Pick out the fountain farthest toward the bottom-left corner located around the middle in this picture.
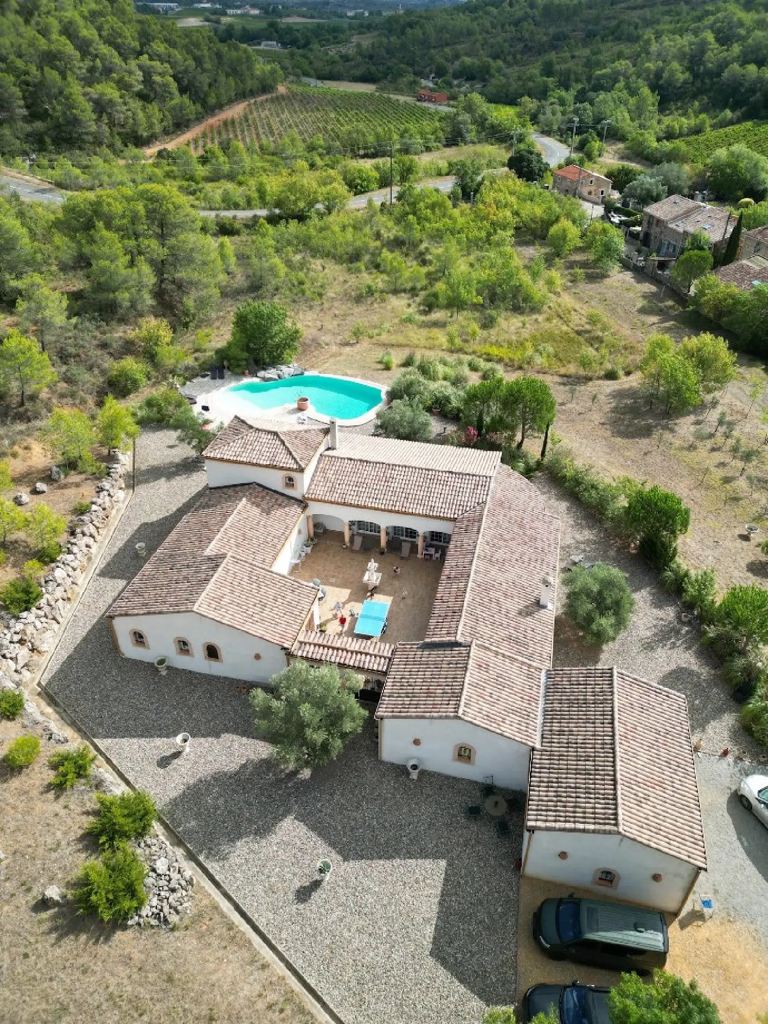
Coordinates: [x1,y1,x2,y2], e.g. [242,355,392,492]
[360,567,381,597]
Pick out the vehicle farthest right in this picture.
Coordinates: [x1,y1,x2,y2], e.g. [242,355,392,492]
[737,774,768,835]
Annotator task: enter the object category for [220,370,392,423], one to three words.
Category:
swimming pool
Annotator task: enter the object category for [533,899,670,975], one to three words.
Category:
van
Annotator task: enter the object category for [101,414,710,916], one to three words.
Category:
house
